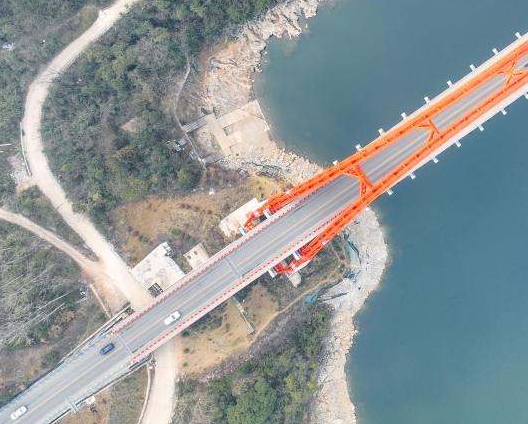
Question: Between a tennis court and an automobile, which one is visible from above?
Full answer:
This aerial view contains an automobile.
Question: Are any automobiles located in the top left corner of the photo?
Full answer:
No, I see no automobile in the top left corner of the photo.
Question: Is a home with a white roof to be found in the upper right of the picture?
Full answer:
No, I can find no home with a white roof in the upper right of the picture.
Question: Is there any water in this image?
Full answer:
Yes, there's water in this view.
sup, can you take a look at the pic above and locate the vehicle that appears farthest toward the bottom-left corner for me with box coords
[7,405,27,422]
